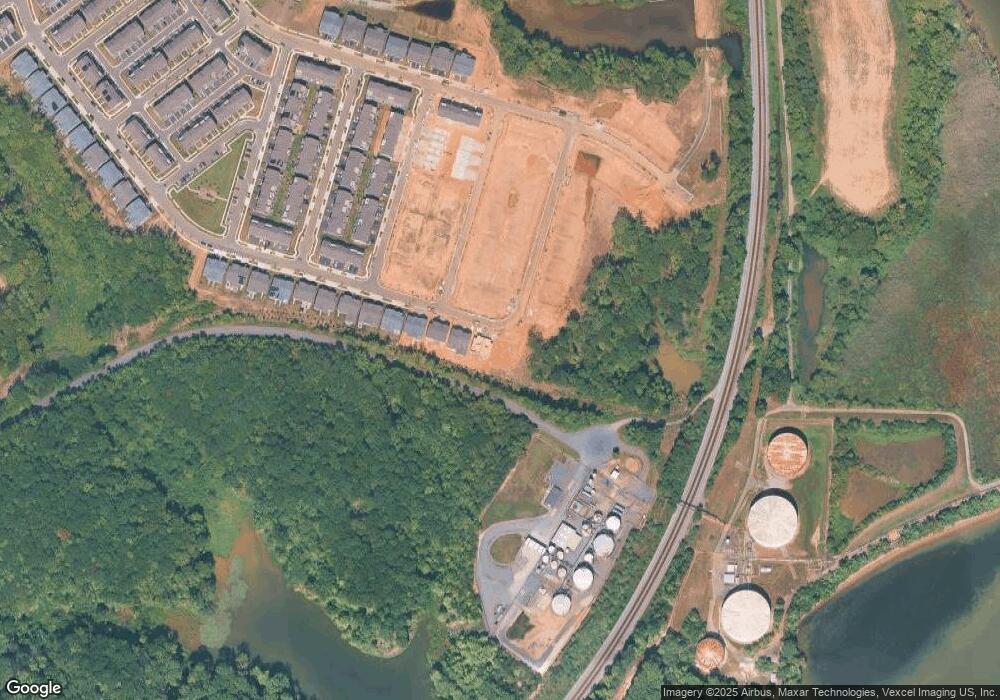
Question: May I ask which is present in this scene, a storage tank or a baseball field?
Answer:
storage tank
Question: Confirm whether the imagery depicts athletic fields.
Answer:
No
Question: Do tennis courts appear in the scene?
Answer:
No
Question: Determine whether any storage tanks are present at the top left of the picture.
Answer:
No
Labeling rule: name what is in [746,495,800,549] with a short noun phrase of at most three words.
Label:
storage tank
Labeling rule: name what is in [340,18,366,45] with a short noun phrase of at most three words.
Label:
house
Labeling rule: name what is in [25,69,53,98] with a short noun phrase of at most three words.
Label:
house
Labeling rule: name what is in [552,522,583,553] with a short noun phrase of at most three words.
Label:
building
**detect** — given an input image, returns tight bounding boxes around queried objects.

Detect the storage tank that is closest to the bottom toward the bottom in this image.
[695,639,726,672]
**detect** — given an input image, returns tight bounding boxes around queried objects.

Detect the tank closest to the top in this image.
[767,435,809,476]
